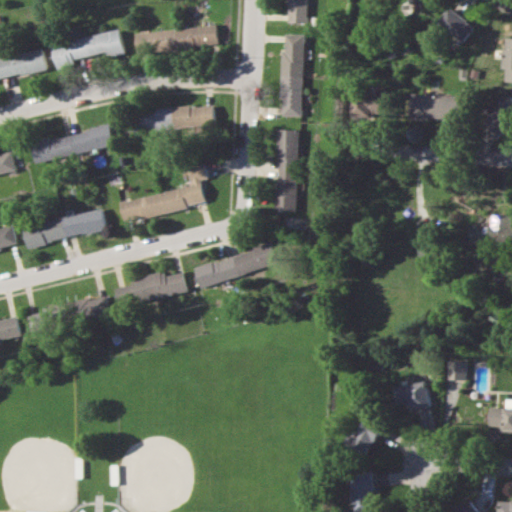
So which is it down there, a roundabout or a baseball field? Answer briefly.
baseball field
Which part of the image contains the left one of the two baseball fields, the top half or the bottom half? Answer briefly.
bottom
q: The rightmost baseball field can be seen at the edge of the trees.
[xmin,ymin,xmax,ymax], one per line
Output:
[76,318,328,512]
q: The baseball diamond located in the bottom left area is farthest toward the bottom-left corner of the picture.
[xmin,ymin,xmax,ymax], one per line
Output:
[0,376,79,512]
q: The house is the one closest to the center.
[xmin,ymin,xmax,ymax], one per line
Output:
[194,246,276,288]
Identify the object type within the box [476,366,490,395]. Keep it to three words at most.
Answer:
swimming pool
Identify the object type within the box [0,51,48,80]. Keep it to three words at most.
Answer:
house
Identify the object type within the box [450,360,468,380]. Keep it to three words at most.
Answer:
building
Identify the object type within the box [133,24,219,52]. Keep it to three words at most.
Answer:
house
